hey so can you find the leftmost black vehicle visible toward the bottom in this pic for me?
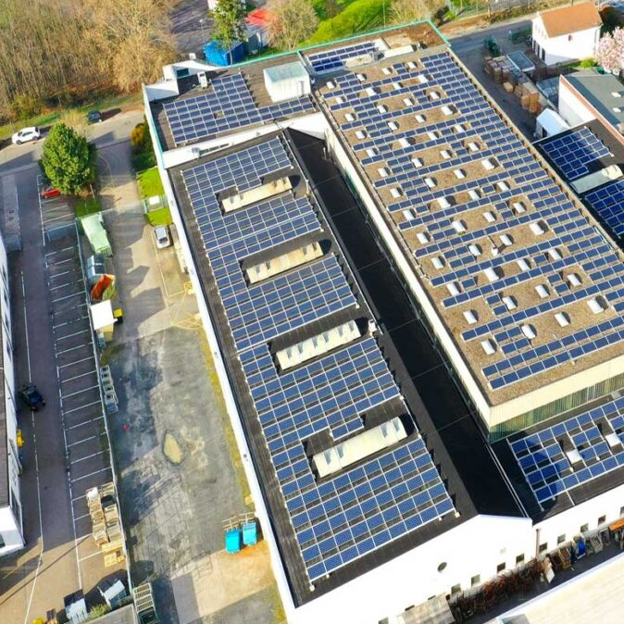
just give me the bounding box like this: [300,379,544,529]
[16,380,48,409]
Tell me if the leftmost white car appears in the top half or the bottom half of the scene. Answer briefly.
top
